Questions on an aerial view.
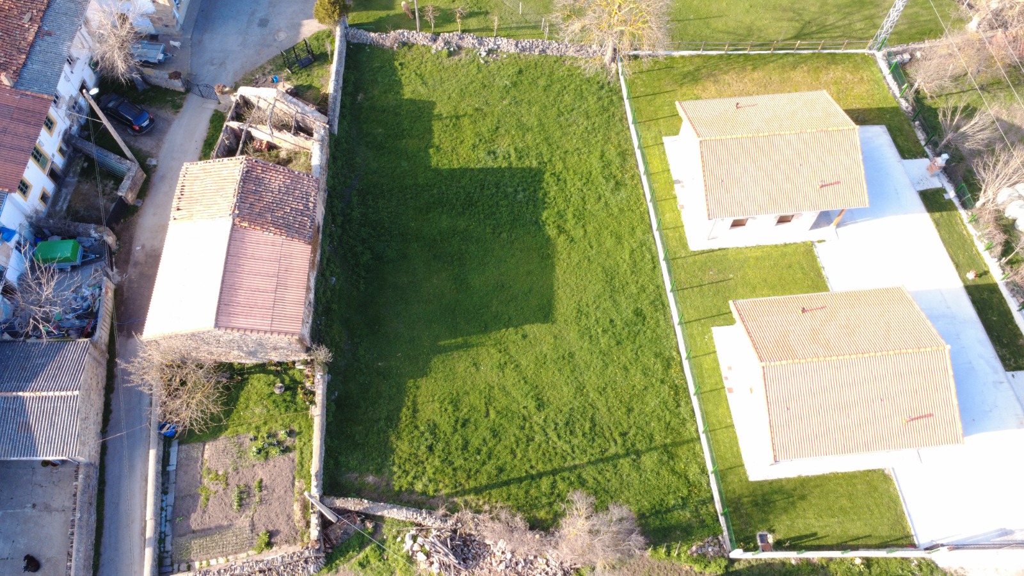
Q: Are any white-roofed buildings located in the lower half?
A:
Yes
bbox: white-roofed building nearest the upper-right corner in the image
[679,93,873,238]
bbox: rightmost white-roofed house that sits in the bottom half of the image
[730,292,970,469]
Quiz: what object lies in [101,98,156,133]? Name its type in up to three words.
car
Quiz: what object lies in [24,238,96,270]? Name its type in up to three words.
trailer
